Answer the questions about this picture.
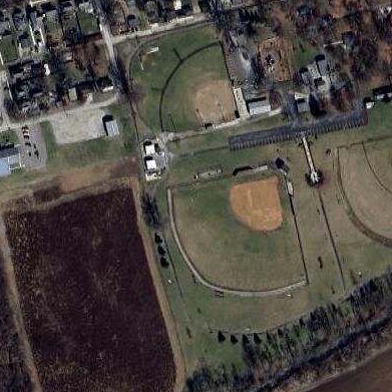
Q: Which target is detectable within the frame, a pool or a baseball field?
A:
baseball field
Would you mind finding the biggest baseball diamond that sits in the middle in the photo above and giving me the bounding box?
[167,165,308,294]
